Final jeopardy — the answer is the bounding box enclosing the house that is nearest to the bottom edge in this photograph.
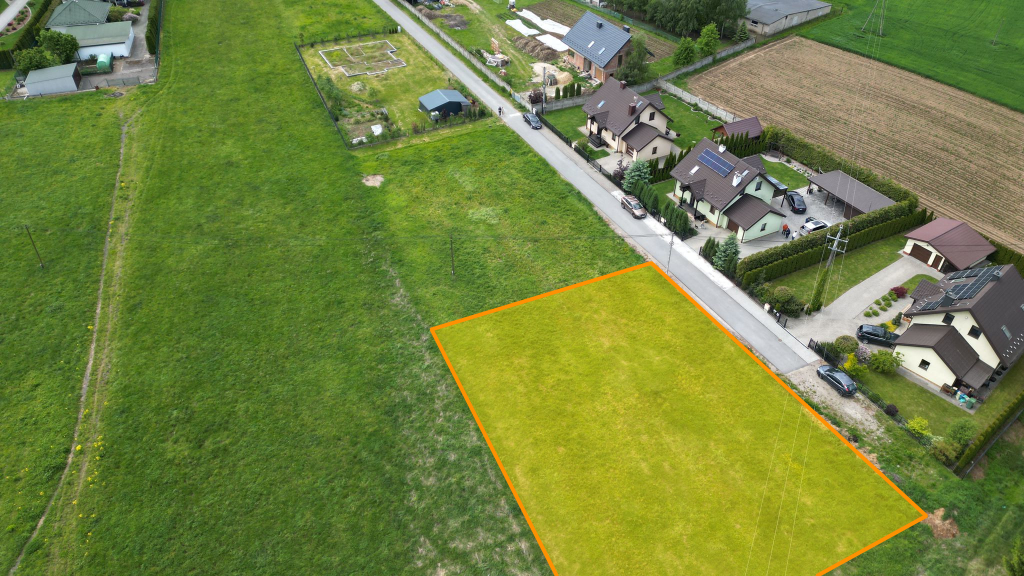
[890,263,1024,398]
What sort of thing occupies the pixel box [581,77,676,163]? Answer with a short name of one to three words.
house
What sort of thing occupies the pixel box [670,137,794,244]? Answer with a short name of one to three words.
house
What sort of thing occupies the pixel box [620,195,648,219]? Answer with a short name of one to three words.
car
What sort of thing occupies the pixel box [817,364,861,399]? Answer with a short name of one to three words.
car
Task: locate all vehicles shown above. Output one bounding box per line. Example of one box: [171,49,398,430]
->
[857,323,901,350]
[817,364,861,399]
[522,113,542,129]
[620,195,648,219]
[785,192,806,211]
[800,214,831,236]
